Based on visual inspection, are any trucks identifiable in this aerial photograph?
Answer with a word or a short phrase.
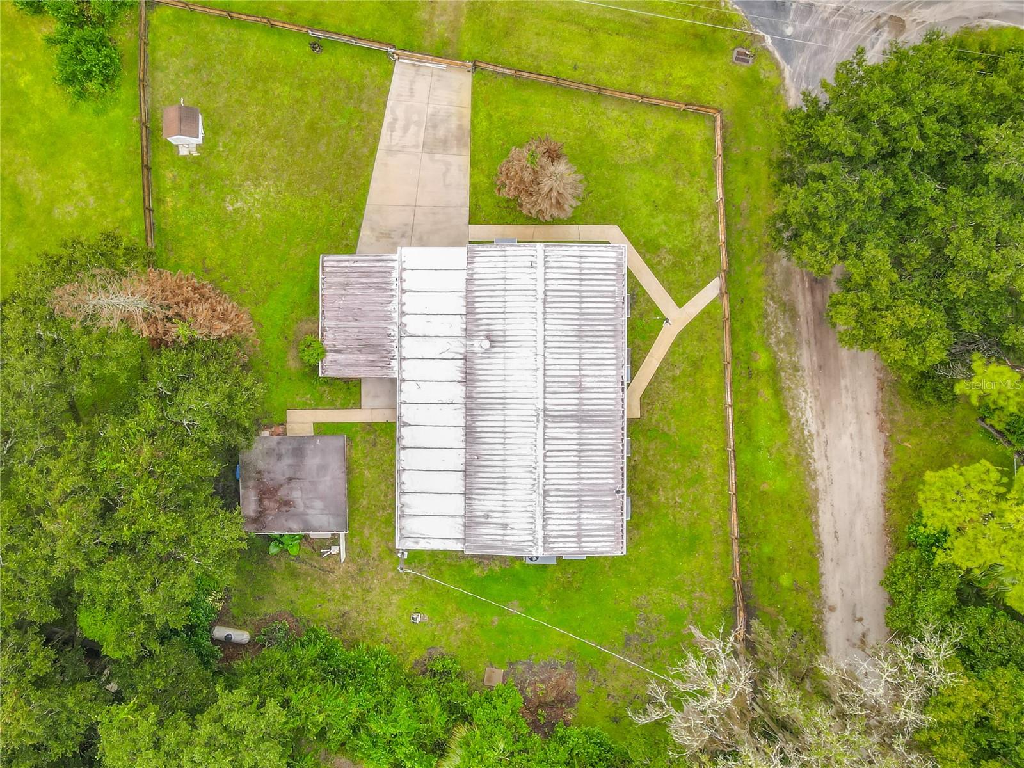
No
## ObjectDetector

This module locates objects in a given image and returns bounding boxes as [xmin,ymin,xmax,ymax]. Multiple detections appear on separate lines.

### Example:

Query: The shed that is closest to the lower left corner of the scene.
[239,435,349,533]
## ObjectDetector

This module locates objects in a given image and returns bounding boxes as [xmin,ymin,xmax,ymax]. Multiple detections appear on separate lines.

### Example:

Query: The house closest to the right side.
[464,239,630,560]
